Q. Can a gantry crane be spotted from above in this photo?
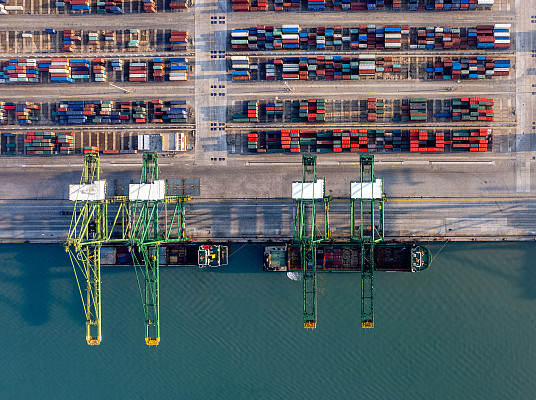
Yes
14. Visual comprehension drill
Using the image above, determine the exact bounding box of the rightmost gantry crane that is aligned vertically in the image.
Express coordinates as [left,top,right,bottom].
[348,157,387,330]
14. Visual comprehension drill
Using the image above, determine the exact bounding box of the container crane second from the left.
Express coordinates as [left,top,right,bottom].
[131,157,193,345]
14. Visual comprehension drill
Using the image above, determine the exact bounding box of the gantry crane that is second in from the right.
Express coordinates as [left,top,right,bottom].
[292,157,334,330]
